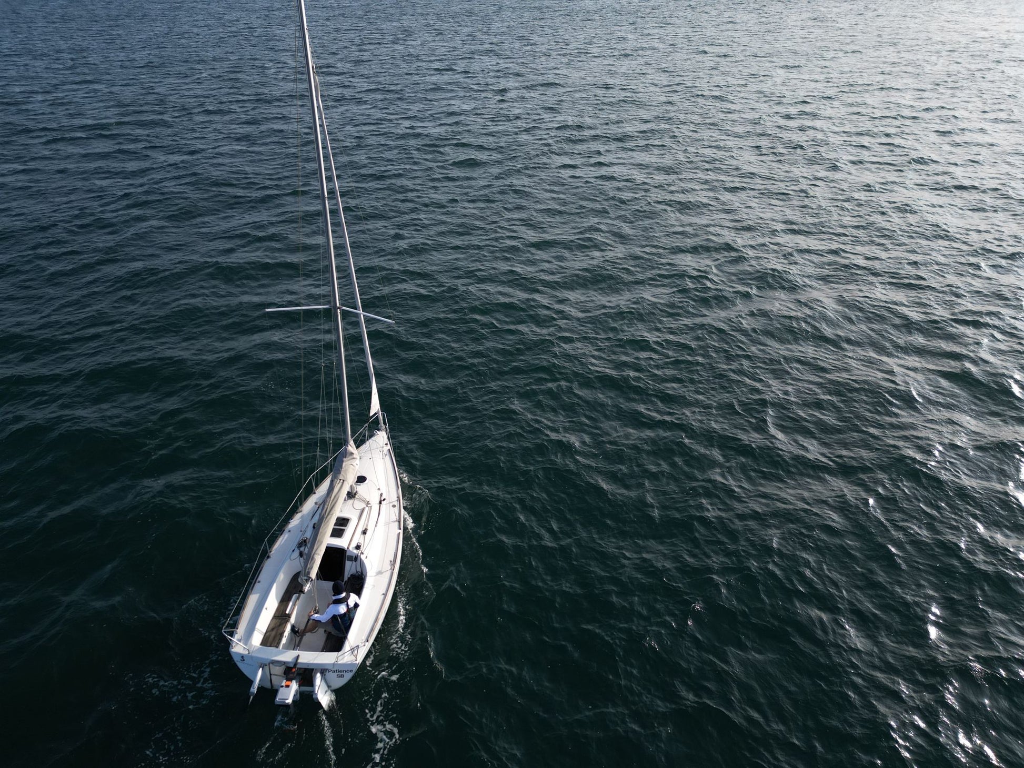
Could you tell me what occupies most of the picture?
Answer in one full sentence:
What you mostly see from above here is water.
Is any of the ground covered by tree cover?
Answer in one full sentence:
No, there is no tree cover in the image.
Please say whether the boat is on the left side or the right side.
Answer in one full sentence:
The boat sits on the left side.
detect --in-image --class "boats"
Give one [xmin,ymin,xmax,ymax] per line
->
[225,0,405,707]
